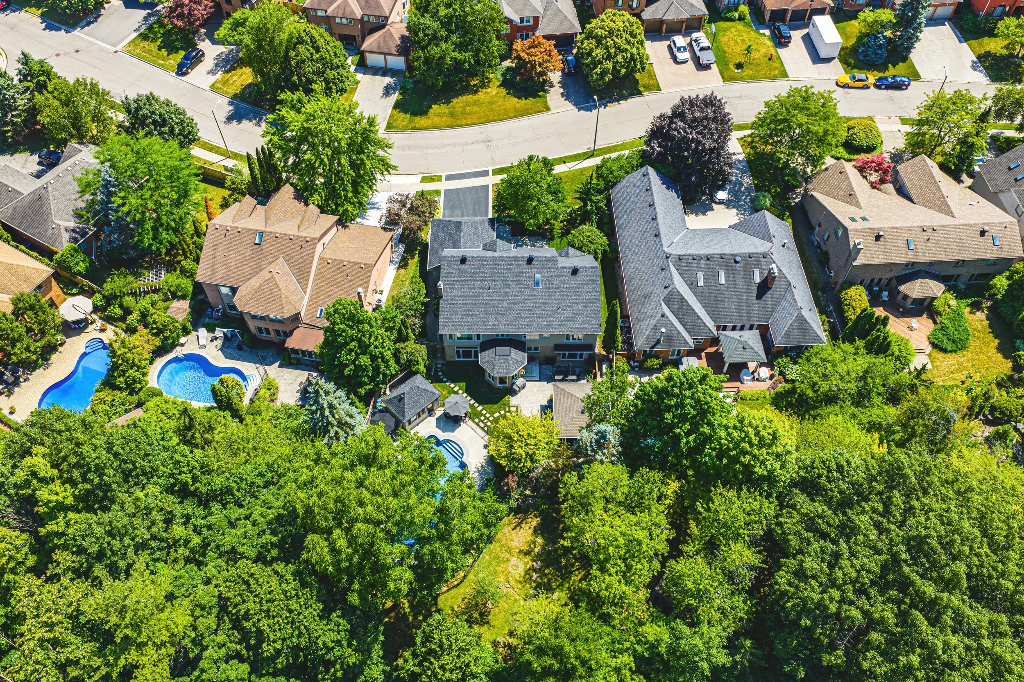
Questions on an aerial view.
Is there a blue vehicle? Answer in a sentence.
Yes, a blue vehicle is visible in the scene.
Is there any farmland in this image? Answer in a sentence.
No, the picture contains no farmland.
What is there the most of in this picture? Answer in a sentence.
The largest share of the image is taken up by trees.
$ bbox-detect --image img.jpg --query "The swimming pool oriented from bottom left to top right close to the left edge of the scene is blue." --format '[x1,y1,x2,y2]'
[39,338,110,419]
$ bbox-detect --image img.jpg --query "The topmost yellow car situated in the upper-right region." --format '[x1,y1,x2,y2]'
[836,74,877,90]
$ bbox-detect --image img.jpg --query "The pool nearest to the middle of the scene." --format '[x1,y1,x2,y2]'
[401,435,468,481]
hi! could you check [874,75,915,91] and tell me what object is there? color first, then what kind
blue car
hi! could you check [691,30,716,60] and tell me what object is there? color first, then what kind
white truck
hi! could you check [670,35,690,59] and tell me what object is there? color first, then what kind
white car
